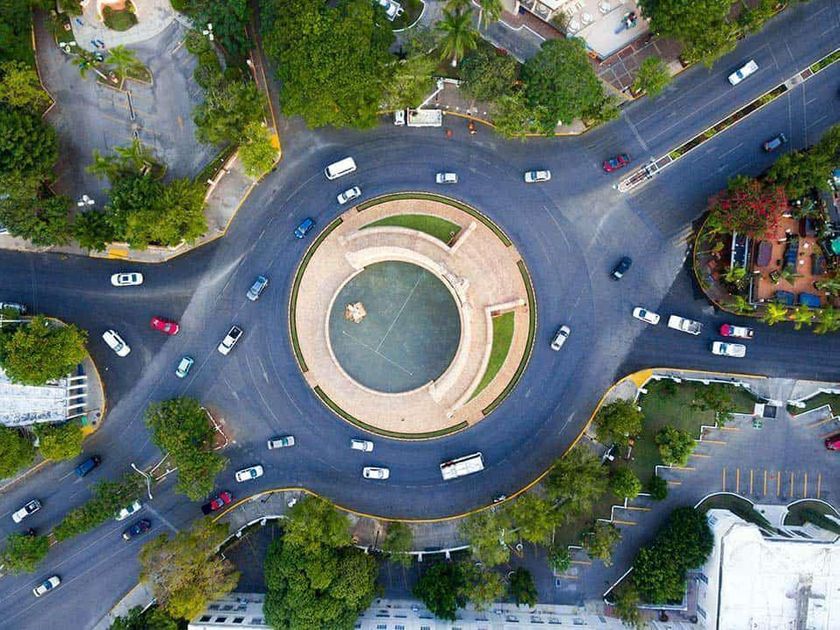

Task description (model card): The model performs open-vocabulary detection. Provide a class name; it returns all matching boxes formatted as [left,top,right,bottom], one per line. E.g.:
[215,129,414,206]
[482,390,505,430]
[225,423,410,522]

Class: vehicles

[176,355,194,378]
[726,58,760,85]
[632,307,662,325]
[267,434,295,449]
[121,517,153,541]
[234,463,265,482]
[111,272,144,286]
[609,256,632,281]
[393,77,458,126]
[336,185,362,204]
[439,453,485,480]
[325,157,357,179]
[218,324,244,355]
[760,133,787,153]
[114,499,143,523]
[523,169,550,183]
[100,329,132,357]
[201,490,233,514]
[710,341,747,357]
[11,497,44,523]
[149,316,180,335]
[550,323,569,352]
[246,275,269,301]
[436,171,457,185]
[719,323,756,339]
[74,454,103,477]
[32,573,63,597]
[362,466,389,481]
[350,438,374,452]
[666,315,705,337]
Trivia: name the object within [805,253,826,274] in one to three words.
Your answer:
umbrella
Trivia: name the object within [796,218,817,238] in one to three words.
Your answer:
umbrella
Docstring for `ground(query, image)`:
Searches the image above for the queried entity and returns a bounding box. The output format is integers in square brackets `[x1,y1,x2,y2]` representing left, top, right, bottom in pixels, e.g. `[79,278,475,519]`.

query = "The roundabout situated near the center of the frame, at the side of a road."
[210,113,616,519]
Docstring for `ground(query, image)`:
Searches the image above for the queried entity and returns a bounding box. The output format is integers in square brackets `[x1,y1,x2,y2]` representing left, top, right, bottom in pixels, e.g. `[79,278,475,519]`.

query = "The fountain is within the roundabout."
[324,246,469,398]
